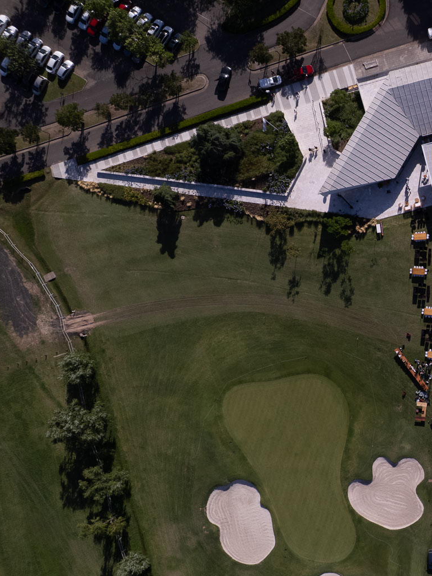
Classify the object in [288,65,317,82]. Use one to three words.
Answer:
car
